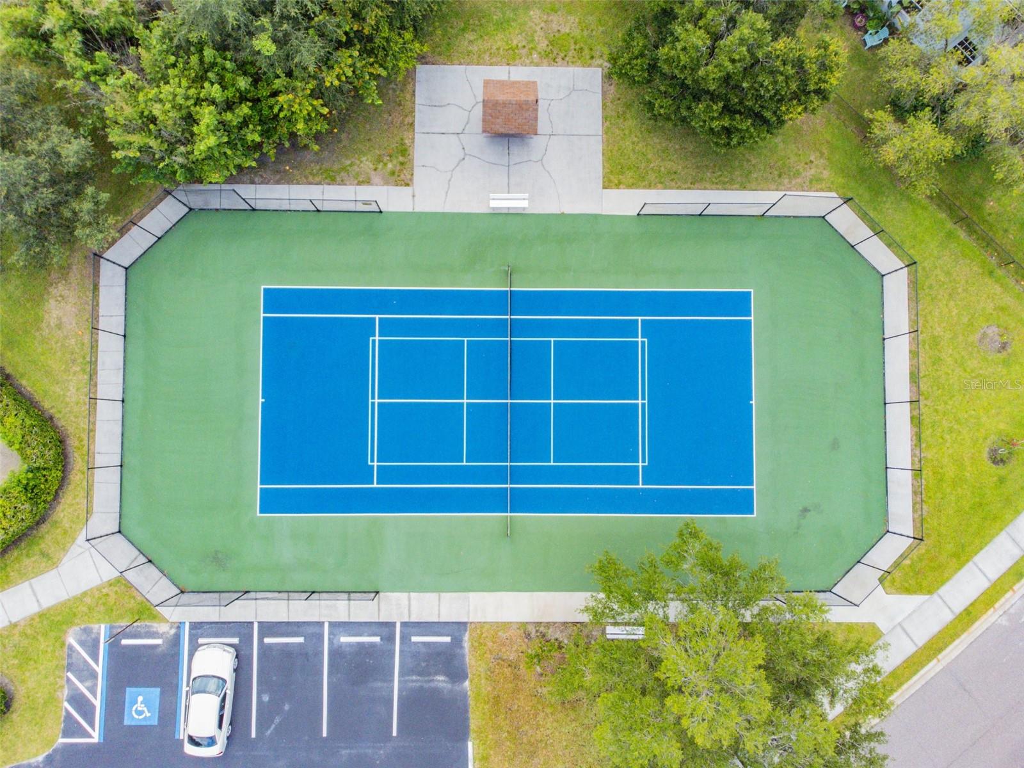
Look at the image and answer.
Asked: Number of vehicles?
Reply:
one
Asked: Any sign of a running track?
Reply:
No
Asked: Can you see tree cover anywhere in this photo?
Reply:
Yes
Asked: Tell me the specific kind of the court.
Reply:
tennis court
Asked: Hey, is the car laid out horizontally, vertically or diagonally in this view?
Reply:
vertically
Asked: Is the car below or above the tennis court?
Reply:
below it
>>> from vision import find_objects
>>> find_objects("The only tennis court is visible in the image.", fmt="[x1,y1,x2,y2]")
[121,210,887,591]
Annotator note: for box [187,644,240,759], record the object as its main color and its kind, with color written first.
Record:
white car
